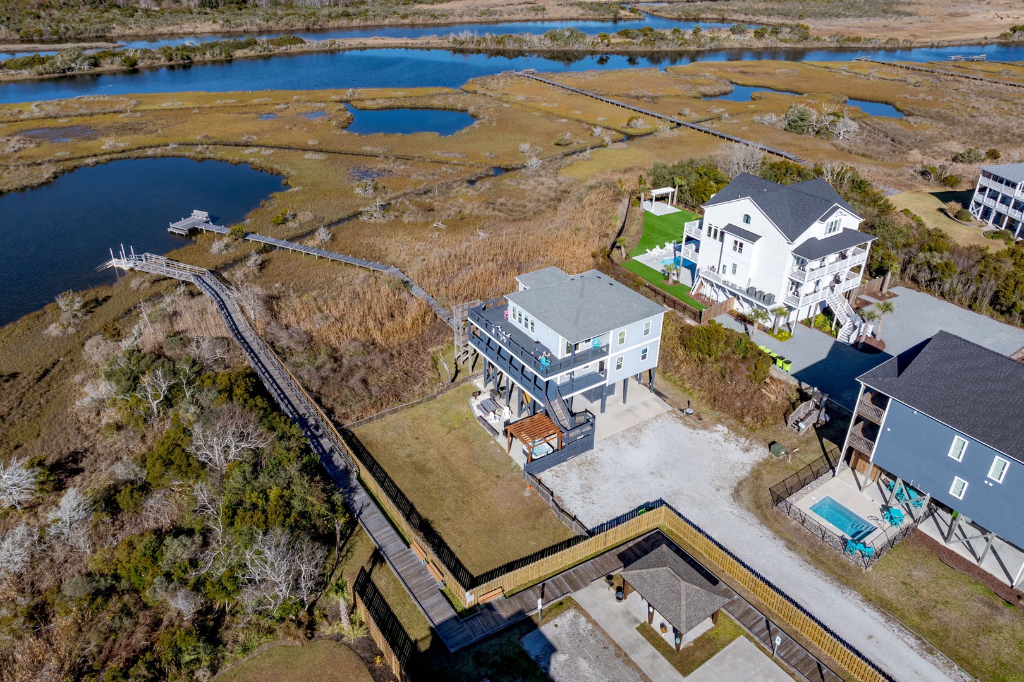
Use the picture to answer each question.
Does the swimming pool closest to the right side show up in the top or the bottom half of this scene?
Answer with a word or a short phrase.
bottom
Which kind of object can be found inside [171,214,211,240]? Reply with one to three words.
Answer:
pier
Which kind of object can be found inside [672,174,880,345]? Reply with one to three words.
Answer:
house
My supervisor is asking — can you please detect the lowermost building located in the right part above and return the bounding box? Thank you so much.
[618,544,730,654]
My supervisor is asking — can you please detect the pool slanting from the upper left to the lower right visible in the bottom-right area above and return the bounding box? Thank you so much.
[807,494,879,542]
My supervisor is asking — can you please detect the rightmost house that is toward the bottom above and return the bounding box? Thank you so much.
[835,331,1024,589]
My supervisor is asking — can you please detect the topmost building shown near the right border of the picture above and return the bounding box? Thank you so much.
[969,164,1024,237]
